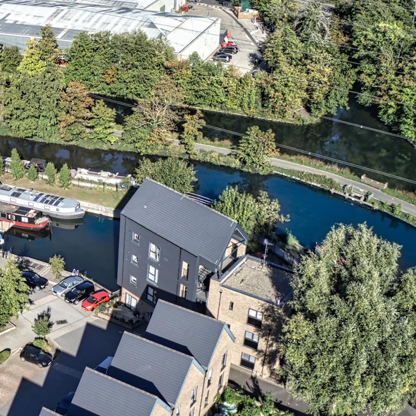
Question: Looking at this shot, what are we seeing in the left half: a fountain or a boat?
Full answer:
Looking in the left half, you will find a boat.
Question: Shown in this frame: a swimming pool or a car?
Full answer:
I can see a car in this picture.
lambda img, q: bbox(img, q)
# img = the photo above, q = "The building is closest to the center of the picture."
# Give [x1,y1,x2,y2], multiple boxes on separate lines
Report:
[116,175,250,321]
